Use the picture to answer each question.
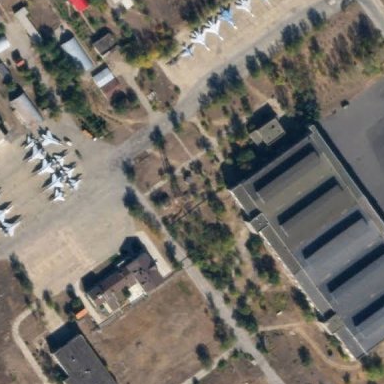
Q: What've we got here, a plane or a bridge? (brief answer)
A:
plane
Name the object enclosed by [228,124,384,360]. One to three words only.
hangar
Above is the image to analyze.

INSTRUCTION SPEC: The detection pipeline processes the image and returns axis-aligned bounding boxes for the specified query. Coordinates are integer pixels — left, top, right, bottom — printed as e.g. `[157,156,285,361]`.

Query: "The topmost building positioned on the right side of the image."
[248,118,286,148]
